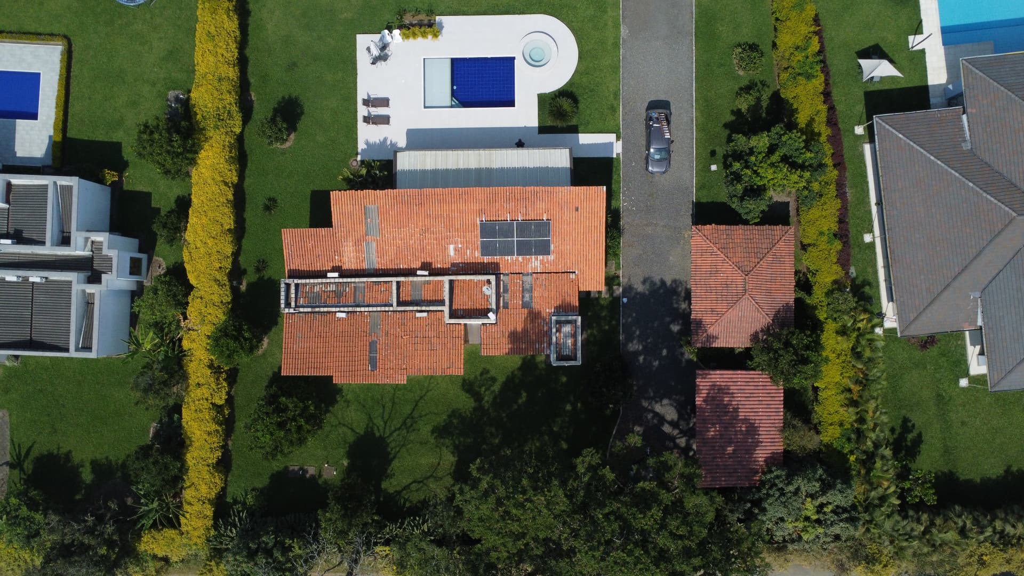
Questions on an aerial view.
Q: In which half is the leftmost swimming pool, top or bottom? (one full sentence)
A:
The leftmost swimming pool is in the top half of the image.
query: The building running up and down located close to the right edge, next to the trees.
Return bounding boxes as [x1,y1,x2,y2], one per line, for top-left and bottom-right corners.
[866,50,1024,394]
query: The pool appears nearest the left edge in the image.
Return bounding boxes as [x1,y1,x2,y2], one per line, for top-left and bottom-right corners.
[0,70,43,122]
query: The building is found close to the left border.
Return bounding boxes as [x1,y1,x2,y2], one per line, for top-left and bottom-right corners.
[0,174,148,357]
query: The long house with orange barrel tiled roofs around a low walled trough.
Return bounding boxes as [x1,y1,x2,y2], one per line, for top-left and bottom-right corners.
[281,186,606,387]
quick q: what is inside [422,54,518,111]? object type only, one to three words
swimming pool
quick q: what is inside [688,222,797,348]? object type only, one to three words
building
